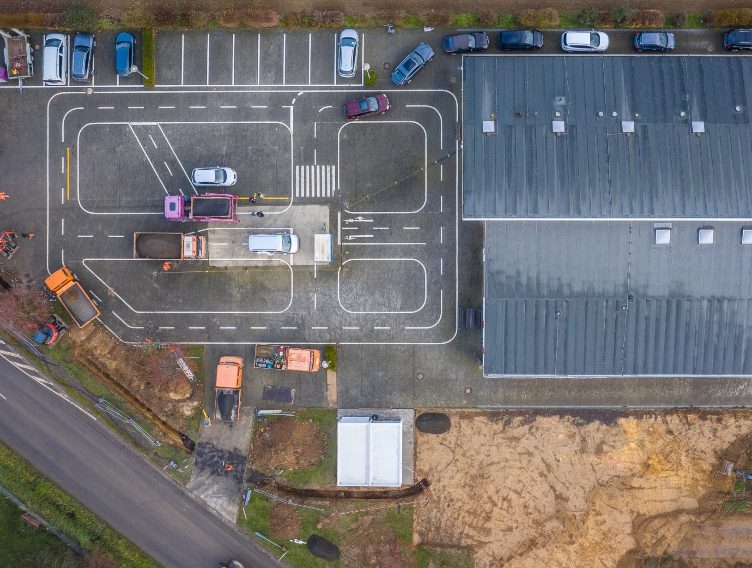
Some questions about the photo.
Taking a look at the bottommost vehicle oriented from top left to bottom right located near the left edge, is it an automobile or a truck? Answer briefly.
truck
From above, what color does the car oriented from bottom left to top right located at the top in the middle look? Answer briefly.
blue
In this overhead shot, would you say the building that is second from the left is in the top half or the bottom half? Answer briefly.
bottom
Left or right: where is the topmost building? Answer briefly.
right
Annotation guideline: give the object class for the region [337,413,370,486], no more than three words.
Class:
building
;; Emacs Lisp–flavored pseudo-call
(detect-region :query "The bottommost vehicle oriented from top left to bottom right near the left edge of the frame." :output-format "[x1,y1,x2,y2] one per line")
[37,262,102,331]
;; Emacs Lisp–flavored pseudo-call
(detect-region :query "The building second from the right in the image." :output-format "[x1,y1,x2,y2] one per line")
[370,416,403,486]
